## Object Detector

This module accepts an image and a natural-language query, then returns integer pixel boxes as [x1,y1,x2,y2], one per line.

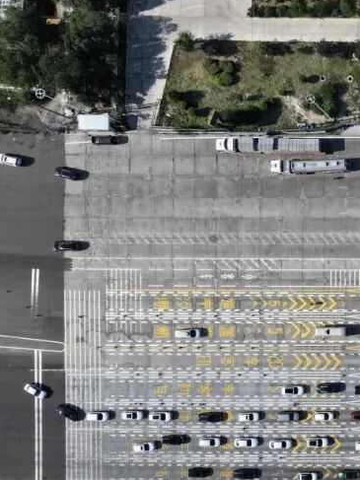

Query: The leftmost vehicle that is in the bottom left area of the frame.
[25,382,49,399]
